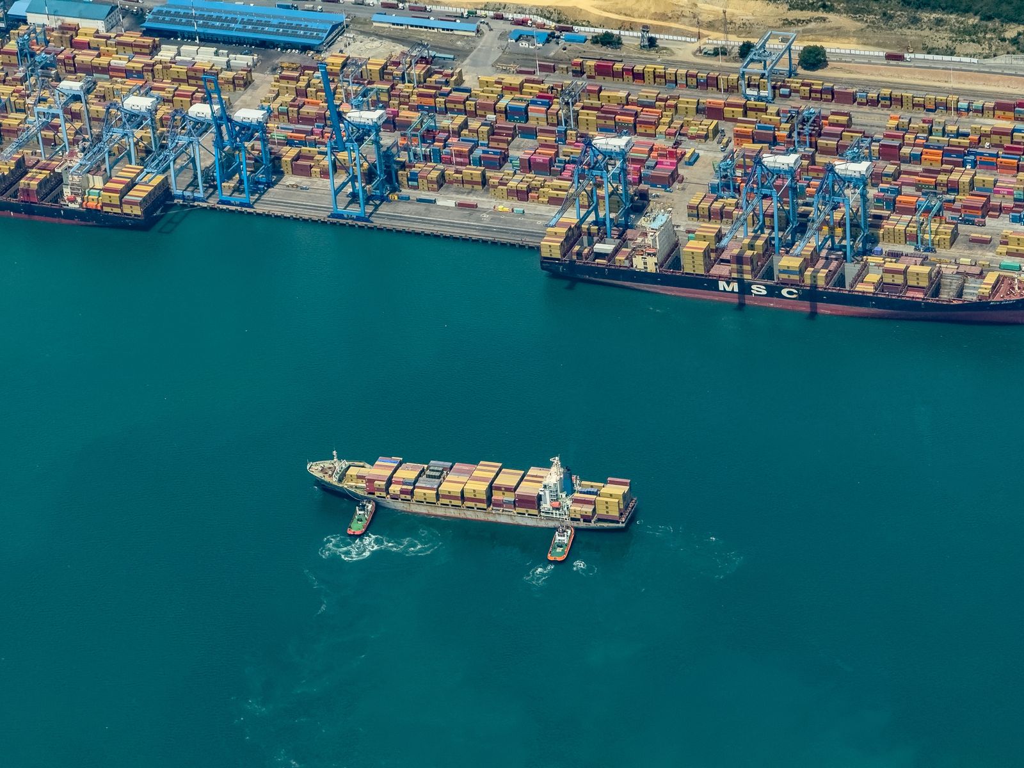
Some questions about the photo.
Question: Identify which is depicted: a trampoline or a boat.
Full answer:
Visible in the photo is a boat.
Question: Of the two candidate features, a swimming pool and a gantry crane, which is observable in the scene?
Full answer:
The image shows a gantry crane.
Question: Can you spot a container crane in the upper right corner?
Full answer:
Yes, you'll find a container crane in the upper right corner.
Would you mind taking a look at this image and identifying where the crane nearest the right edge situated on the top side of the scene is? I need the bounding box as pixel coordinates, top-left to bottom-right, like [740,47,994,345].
[913,193,944,251]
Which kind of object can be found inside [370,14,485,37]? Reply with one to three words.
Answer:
shed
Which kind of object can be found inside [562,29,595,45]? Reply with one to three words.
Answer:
shed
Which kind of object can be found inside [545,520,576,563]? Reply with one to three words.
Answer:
boat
